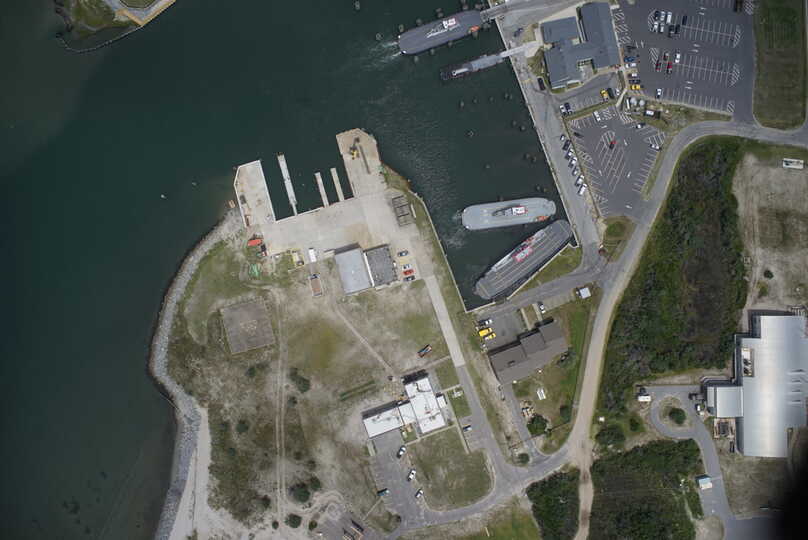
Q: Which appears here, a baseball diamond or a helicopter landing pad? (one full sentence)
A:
The image shows a helicopter landing pad.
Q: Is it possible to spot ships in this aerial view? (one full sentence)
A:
Yes, there's a ship down there.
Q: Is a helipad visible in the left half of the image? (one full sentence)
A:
Yes, looking in the left half of the image, one can make out a helipad.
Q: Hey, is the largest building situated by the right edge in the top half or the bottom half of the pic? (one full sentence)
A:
You can find the largest building situated by the right edge in the bottom half.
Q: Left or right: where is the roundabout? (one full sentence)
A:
You can find the roundabout on the right side of the picture.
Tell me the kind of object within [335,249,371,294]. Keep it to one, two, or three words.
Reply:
shed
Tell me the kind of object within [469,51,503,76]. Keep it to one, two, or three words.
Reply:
pier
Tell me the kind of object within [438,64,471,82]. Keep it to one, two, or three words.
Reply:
vessel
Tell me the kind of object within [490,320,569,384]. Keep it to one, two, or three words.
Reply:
house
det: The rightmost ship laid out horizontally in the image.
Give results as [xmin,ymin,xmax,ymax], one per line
[462,200,556,229]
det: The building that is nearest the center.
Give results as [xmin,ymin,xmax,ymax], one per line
[365,246,400,287]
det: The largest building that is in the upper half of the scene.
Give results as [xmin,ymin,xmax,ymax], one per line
[541,2,624,92]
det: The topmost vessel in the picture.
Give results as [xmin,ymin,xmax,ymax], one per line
[398,12,481,54]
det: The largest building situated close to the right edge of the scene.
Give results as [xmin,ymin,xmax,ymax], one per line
[705,315,807,457]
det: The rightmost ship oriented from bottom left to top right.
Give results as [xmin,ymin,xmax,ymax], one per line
[472,220,574,302]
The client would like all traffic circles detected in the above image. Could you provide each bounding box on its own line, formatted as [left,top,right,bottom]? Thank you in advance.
[645,386,808,540]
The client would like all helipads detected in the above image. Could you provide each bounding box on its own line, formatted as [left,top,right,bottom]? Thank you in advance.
[221,298,275,354]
